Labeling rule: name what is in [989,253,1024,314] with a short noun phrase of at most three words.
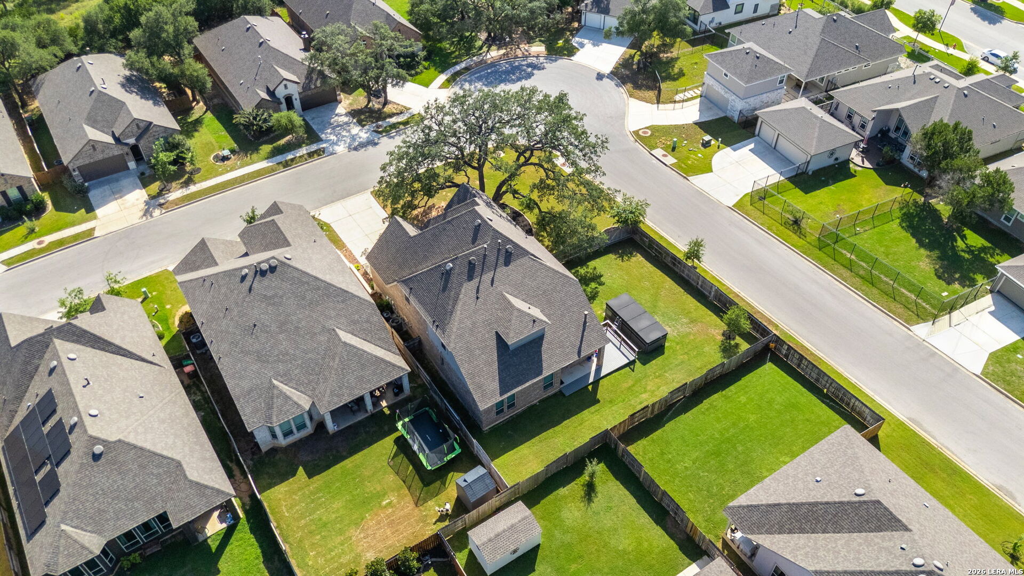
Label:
building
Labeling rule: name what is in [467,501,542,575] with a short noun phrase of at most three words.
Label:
shed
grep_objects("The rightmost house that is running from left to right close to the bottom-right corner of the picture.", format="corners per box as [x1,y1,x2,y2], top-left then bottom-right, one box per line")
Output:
[721,424,1024,576]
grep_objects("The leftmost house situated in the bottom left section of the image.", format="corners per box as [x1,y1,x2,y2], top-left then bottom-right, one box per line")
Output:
[0,293,244,576]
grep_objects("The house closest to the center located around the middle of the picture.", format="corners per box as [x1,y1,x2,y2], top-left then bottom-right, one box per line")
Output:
[367,183,609,425]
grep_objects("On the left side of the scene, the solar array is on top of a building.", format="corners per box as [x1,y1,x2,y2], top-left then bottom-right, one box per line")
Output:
[4,389,70,535]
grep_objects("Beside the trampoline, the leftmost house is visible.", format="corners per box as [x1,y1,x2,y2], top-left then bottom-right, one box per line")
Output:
[172,201,410,447]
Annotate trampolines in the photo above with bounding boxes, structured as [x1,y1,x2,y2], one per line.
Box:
[388,393,466,473]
